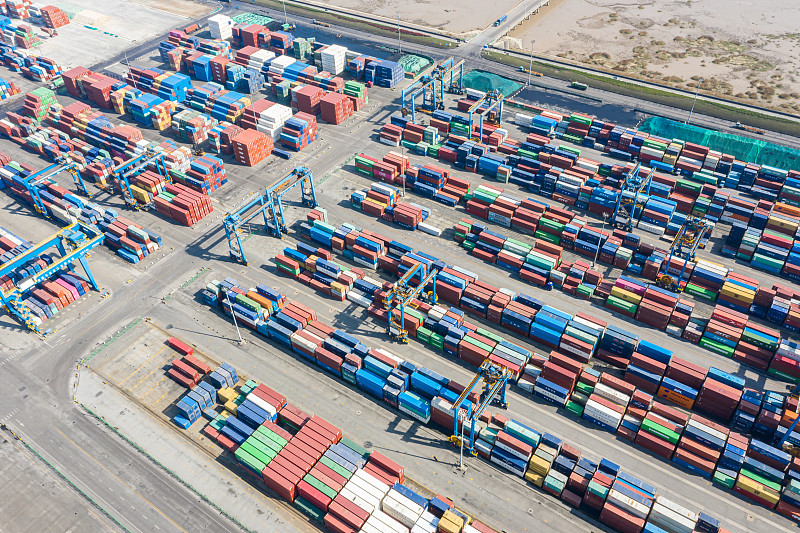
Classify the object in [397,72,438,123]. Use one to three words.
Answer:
container crane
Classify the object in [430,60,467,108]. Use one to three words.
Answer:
container crane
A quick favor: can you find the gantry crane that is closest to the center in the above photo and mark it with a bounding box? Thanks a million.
[382,260,445,345]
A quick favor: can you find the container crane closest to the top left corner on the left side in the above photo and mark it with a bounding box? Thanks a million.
[20,153,91,217]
